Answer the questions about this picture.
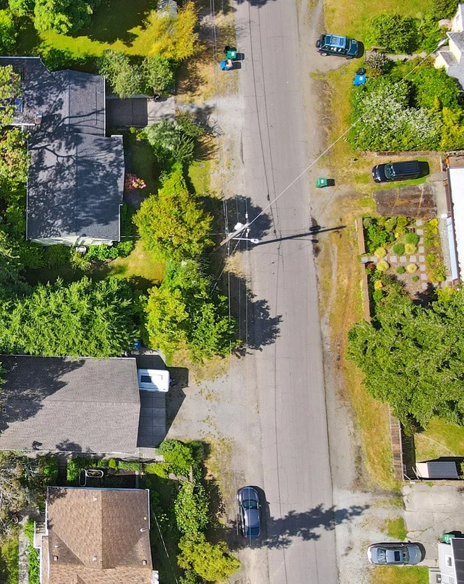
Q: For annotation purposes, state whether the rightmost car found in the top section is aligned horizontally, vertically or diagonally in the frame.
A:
horizontally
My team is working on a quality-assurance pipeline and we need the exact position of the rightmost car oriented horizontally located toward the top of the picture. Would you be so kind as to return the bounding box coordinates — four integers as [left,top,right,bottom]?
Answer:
[368,158,424,185]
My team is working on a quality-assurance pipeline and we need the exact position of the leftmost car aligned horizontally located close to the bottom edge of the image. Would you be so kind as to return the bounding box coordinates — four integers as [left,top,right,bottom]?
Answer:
[366,541,420,567]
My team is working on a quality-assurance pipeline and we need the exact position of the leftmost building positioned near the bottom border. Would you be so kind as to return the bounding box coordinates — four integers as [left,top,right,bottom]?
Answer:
[38,484,159,584]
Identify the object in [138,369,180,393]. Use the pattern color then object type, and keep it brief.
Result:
white camper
